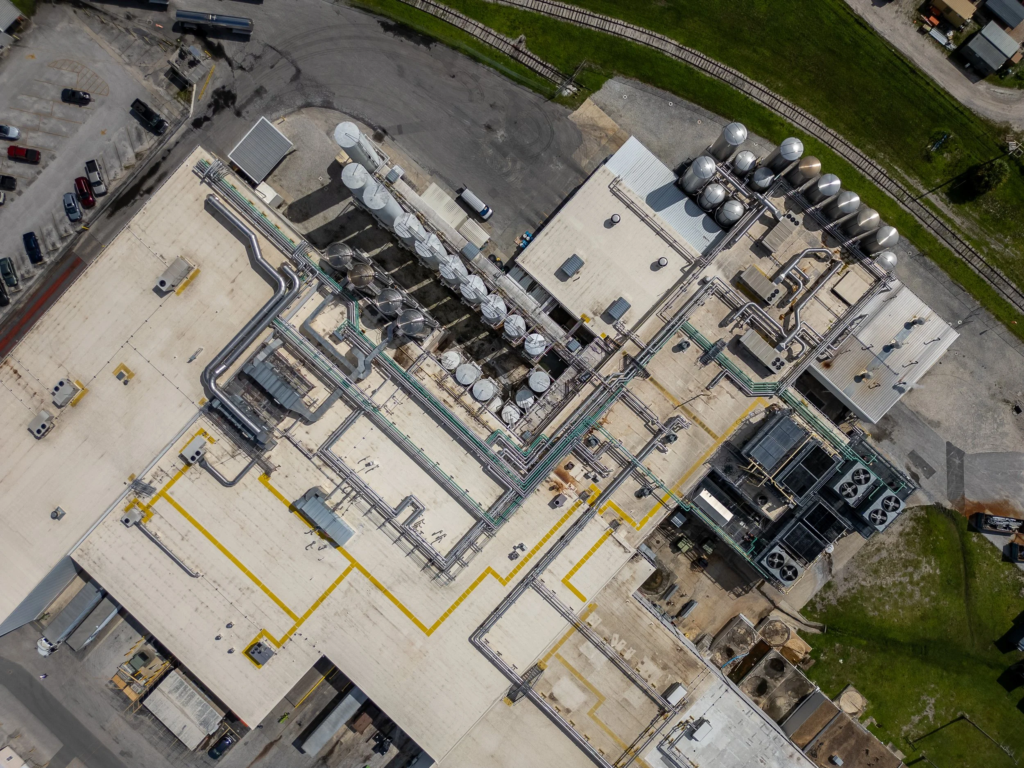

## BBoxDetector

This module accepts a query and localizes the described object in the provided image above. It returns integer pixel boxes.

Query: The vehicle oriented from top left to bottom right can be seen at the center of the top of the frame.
[454,184,493,224]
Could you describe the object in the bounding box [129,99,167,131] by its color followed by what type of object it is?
black truck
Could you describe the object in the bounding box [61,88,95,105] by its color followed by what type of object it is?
black car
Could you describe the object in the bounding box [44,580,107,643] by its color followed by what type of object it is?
gray trailer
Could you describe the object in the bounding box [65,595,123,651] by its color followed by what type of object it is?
gray trailer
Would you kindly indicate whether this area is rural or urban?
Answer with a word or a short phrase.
urban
